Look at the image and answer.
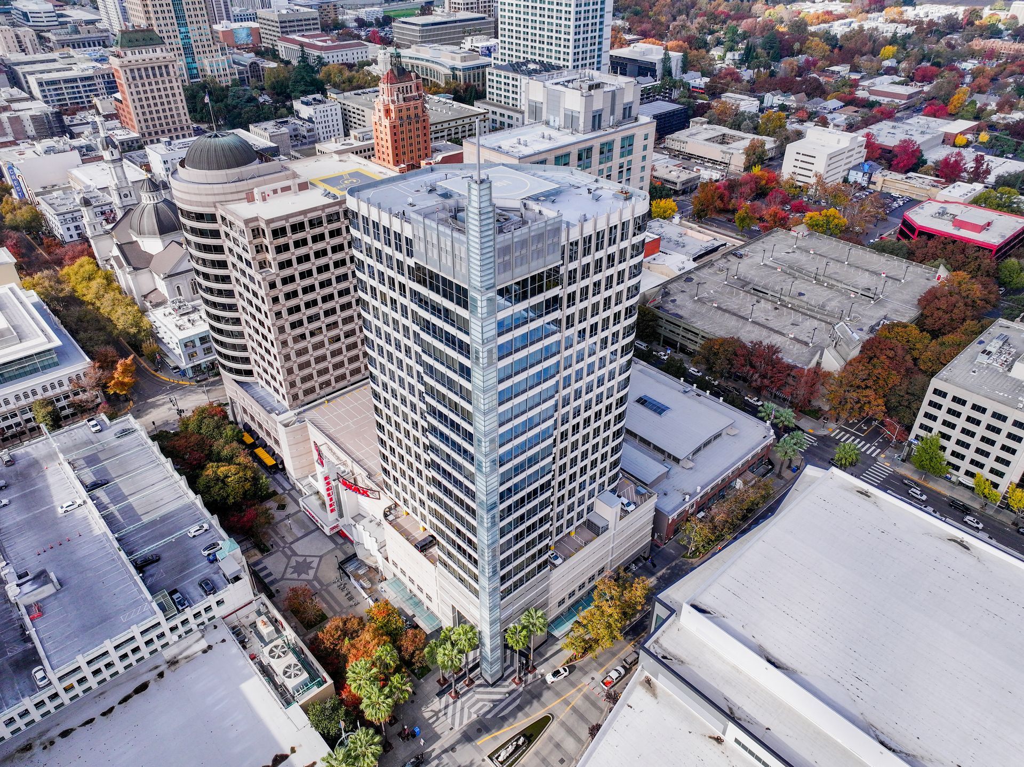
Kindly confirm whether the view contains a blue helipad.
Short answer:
No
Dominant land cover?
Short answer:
buildings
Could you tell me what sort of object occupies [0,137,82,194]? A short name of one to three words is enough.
building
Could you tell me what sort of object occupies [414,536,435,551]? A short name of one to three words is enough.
car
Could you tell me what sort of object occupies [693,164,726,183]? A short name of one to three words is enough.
building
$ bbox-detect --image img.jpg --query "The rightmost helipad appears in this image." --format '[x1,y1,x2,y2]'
[432,164,574,203]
